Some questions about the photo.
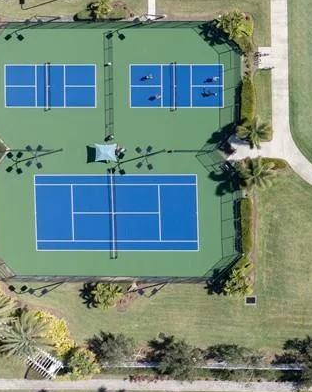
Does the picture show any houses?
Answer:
No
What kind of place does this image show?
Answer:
sports ground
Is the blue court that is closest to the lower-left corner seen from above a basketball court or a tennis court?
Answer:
tennis court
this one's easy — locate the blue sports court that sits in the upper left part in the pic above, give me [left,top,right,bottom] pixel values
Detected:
[4,62,96,111]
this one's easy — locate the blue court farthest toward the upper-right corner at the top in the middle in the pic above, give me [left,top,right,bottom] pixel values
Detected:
[129,62,223,111]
